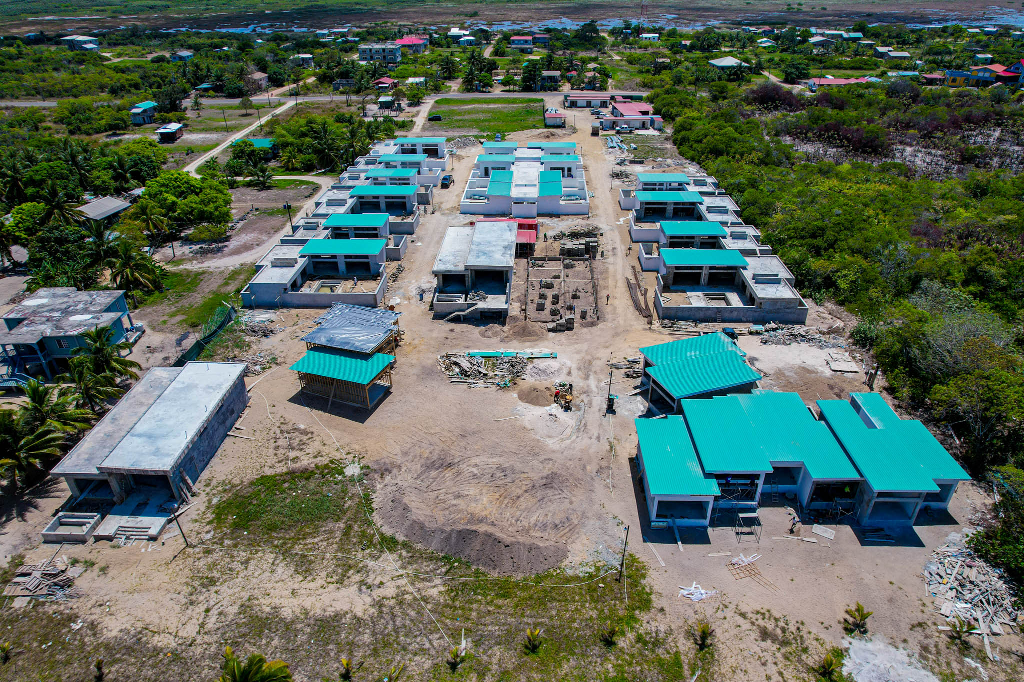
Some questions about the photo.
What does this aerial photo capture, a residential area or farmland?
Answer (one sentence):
The area seen from above is a residential area.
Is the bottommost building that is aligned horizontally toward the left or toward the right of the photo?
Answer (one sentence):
You can find the bottommost building that is aligned horizontally on the right side of the picture.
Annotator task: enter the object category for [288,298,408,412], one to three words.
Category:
shed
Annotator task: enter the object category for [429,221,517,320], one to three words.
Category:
house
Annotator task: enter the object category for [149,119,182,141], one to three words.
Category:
building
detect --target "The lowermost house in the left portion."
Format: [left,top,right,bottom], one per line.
[50,362,255,544]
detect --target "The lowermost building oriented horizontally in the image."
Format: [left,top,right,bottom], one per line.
[634,389,972,525]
